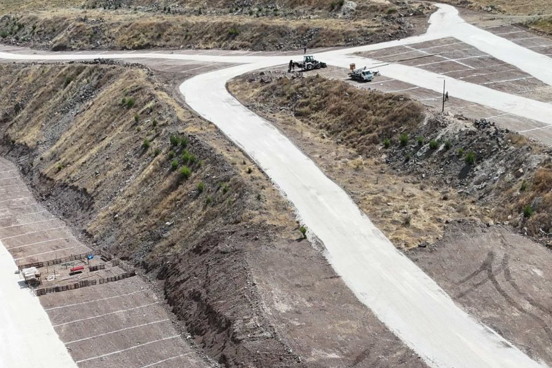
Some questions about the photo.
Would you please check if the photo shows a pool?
No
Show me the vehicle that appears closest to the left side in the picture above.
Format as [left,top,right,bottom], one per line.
[294,53,335,72]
